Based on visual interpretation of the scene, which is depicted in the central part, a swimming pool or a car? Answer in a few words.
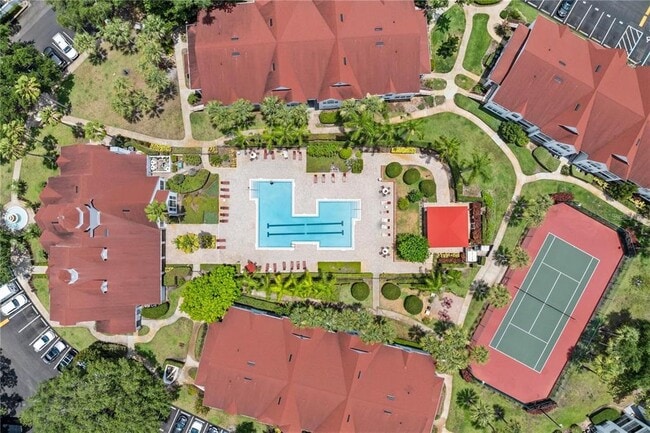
swimming pool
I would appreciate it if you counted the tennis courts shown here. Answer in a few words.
1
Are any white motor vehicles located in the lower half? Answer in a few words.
Yes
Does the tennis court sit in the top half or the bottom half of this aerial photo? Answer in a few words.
bottom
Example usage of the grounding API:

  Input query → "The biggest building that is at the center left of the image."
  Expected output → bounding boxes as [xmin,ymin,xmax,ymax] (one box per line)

[37,142,177,335]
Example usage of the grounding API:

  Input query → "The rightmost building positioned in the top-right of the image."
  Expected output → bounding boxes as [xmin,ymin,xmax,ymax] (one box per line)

[477,13,650,201]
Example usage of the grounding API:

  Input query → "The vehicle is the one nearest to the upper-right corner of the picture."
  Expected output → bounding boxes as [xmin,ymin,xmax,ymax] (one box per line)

[554,0,574,22]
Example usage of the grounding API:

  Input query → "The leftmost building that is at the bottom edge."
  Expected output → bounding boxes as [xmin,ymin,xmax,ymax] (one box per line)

[196,305,441,433]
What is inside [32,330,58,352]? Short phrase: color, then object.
white car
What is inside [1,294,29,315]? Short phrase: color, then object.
white car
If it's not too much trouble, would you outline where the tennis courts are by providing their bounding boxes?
[467,203,624,404]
